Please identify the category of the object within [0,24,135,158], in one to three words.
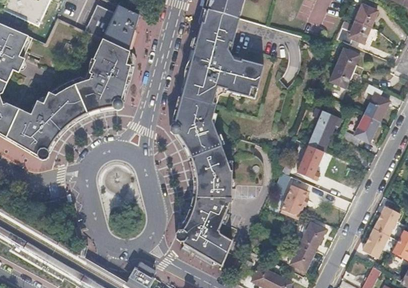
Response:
building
